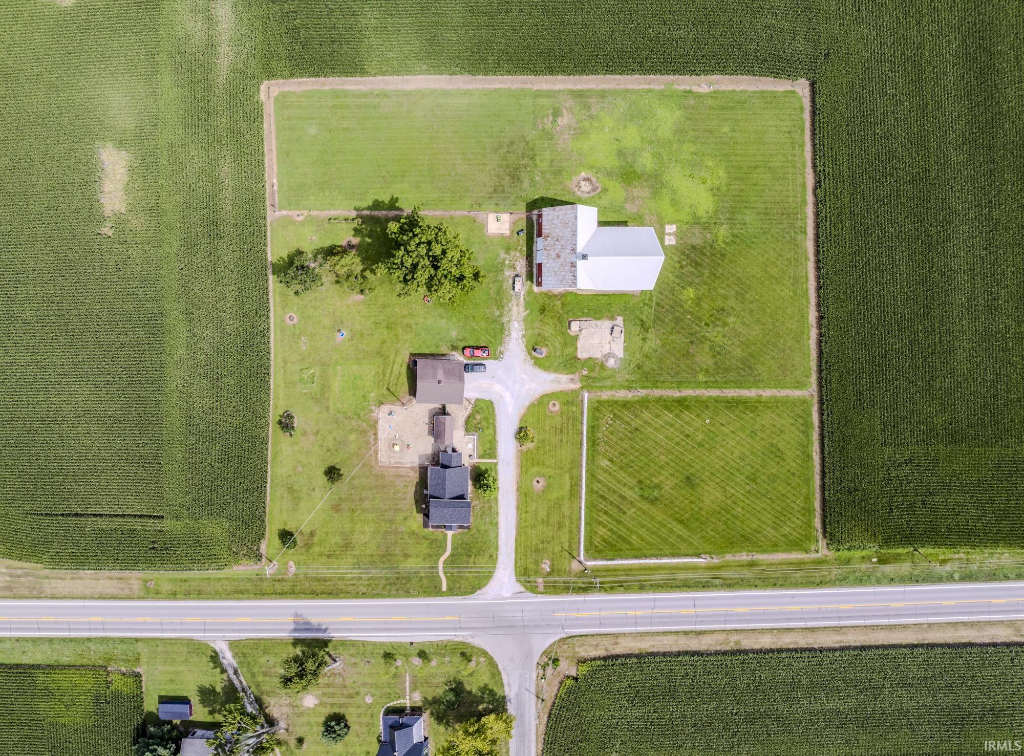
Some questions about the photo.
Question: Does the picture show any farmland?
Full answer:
Yes, farmland shows up in the scene.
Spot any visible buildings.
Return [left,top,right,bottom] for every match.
[536,204,665,291]
[416,359,464,404]
[160,698,194,718]
[377,712,429,756]
[429,445,472,532]
[434,415,455,445]
[180,726,242,756]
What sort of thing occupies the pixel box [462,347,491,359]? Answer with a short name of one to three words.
vehicle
